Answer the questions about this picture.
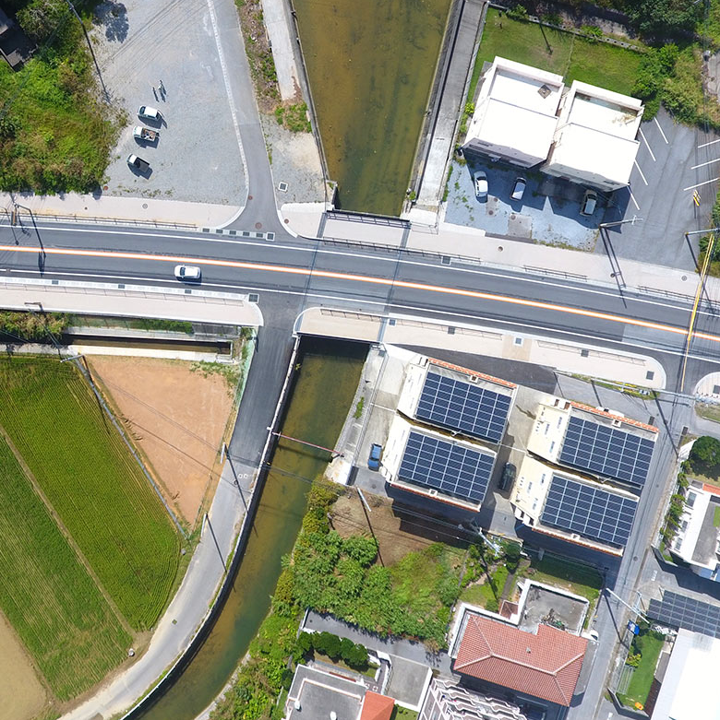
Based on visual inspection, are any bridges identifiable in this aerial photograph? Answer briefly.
Yes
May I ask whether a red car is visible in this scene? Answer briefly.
No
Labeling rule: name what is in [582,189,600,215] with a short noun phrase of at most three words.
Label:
car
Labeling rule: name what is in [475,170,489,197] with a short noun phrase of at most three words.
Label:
car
